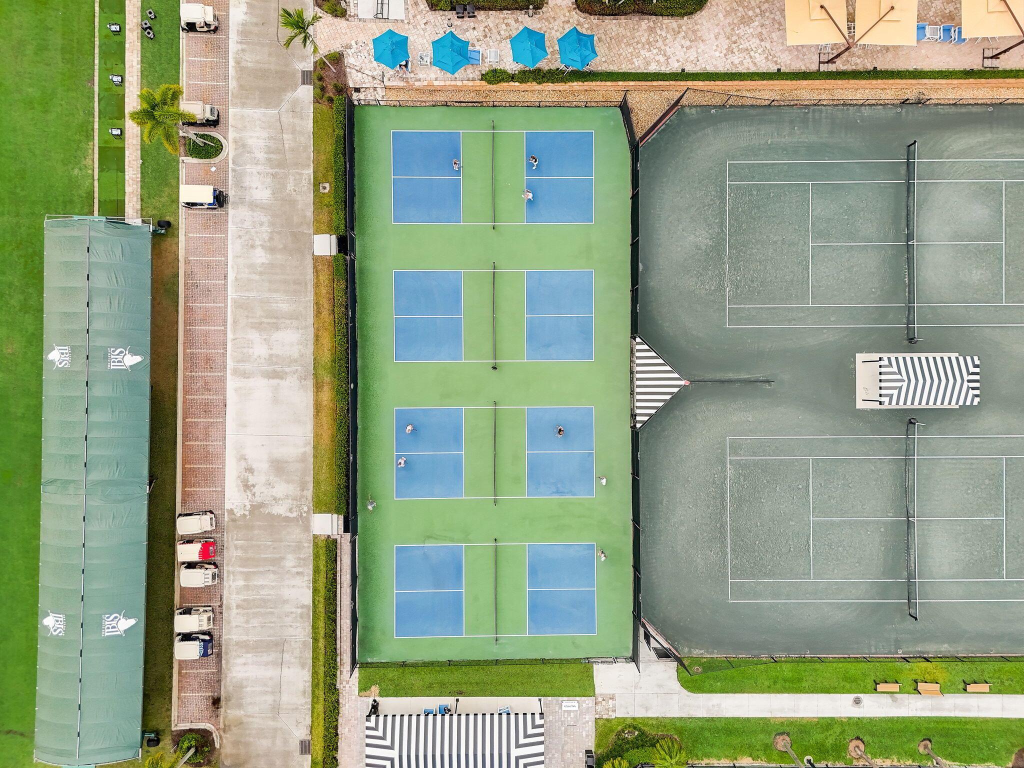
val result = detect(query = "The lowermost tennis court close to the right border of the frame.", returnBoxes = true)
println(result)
[636,383,1024,656]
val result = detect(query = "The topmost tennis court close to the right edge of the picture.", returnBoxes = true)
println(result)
[636,104,1024,383]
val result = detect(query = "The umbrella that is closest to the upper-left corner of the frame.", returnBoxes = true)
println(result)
[373,28,410,70]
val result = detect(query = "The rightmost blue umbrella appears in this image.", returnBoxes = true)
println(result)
[557,26,598,71]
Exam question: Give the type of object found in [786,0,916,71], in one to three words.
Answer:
umbrella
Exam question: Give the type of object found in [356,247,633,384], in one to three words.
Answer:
sports court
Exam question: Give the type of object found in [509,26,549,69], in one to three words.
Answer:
umbrella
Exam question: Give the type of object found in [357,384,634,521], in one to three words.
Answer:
sports court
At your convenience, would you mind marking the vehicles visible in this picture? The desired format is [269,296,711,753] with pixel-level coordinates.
[179,562,219,587]
[181,102,218,130]
[176,507,217,532]
[175,632,214,660]
[177,536,216,560]
[181,184,229,209]
[174,606,214,633]
[179,2,217,33]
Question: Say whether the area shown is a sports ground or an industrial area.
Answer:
sports ground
